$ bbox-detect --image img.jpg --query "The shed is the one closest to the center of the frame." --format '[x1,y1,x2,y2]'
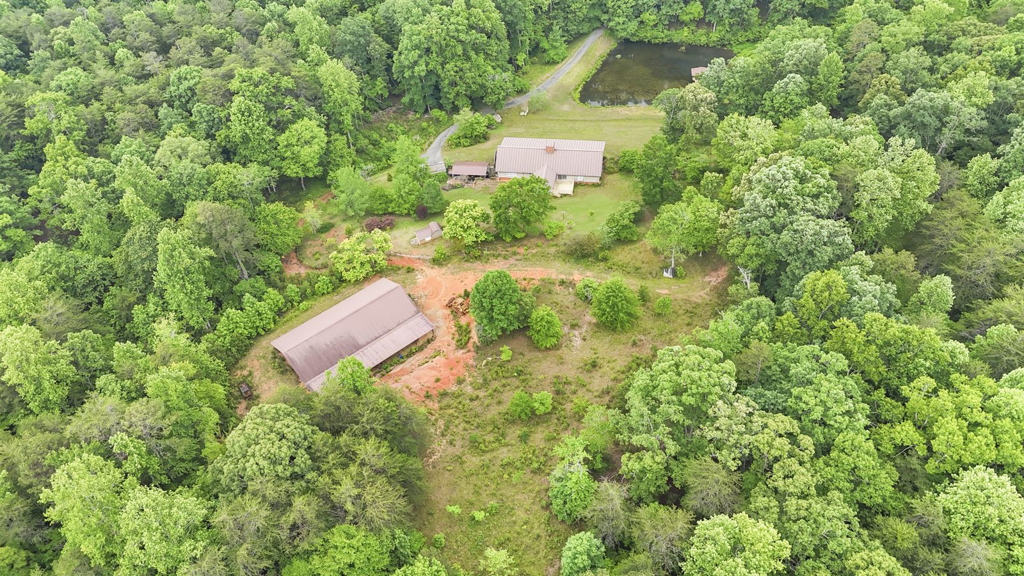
[414,220,444,245]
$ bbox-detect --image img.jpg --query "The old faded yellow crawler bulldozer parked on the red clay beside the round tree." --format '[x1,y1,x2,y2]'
[440,291,470,316]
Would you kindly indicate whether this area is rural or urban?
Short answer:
rural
